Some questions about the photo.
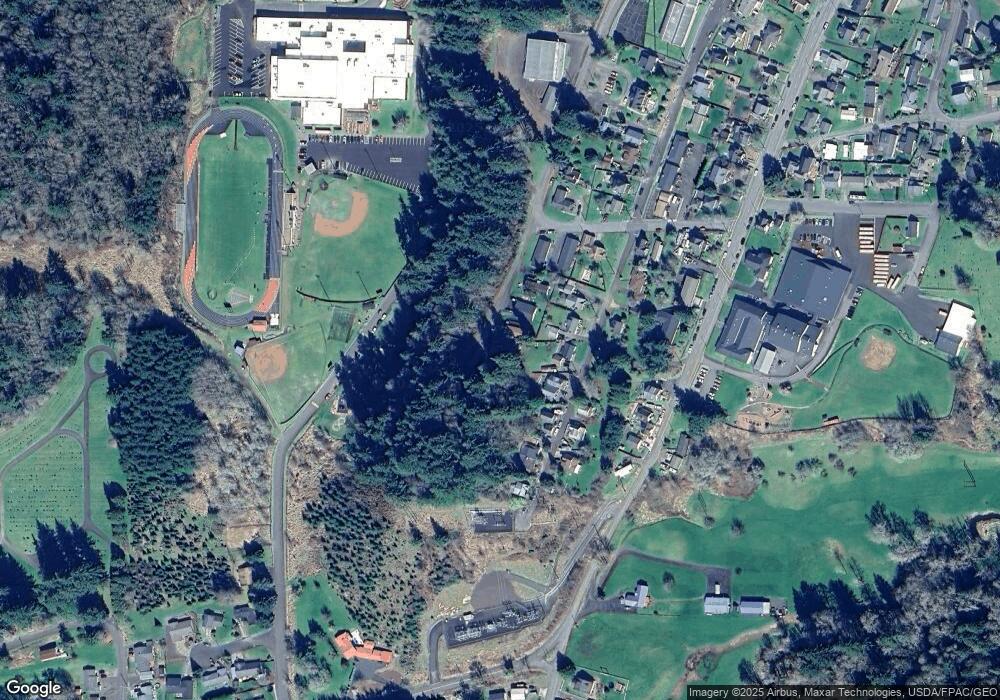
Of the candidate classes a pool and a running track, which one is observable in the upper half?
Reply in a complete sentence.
What appears in the upper half is a running track.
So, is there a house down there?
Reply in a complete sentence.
Yes, the photo shows a house.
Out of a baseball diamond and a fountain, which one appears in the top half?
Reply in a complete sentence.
There is a baseball diamond in the top half.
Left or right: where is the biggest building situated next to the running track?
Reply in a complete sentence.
The biggest building situated next to the running track is on the left side of the image.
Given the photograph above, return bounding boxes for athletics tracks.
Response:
[183,106,282,326]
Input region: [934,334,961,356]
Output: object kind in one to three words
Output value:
building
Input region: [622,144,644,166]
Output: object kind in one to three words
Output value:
house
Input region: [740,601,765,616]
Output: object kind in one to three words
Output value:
barn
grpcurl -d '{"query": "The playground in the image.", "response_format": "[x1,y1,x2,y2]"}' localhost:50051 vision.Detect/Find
[736,385,793,432]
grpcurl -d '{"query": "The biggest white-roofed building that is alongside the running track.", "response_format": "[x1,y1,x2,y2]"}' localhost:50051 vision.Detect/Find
[257,18,414,126]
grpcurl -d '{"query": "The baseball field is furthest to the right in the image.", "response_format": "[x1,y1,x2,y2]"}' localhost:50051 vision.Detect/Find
[297,174,406,301]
